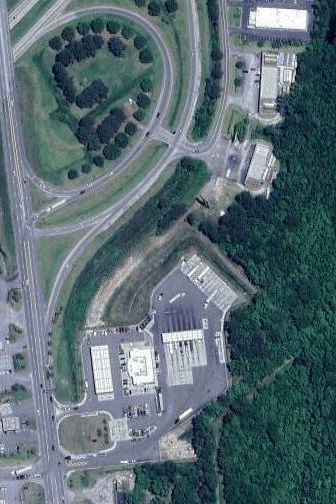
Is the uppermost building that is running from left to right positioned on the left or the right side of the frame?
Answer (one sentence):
It is on the right.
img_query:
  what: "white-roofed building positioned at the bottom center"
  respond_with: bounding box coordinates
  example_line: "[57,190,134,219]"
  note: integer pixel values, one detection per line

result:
[127,349,155,387]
